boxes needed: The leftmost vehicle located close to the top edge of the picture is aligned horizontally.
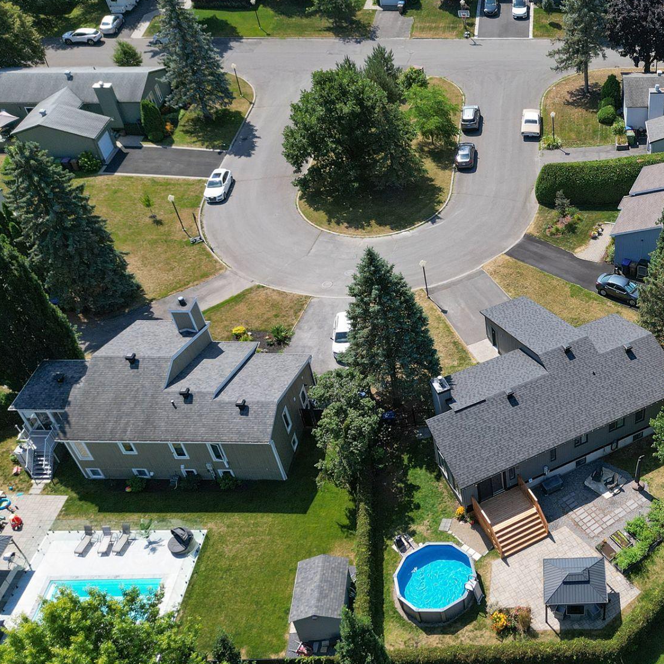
[62,25,105,43]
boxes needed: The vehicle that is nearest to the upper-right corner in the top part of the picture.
[511,0,528,15]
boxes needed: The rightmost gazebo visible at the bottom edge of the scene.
[542,558,608,632]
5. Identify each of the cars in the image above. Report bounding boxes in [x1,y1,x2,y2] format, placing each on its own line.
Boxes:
[460,107,481,132]
[511,0,528,15]
[520,112,542,139]
[142,28,180,45]
[482,0,498,14]
[591,271,655,306]
[197,170,239,203]
[62,25,105,43]
[451,144,478,171]
[327,308,363,361]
